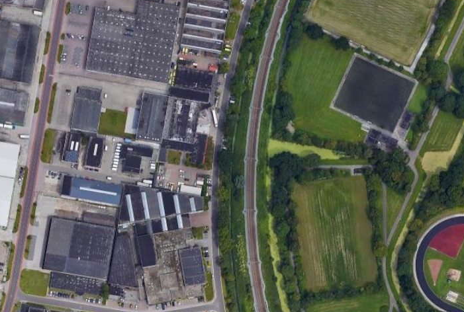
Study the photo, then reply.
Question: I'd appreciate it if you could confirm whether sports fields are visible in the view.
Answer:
Yes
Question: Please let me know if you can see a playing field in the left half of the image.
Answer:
No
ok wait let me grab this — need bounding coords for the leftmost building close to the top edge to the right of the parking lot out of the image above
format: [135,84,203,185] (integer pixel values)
[87,0,180,85]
